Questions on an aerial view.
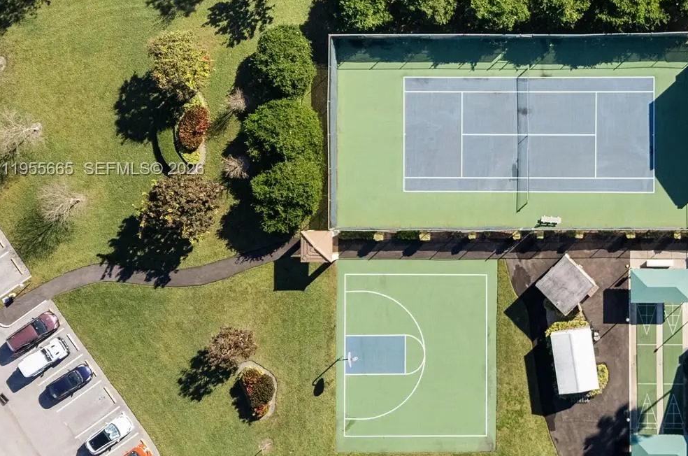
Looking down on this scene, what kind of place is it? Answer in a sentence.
The picture captures a sports ground.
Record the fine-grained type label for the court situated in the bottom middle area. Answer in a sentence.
The court situated in the bottom middle area can be classified as a basketball court.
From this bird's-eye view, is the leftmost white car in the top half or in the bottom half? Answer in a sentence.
It is in the bottom half that the leftmost white car appears.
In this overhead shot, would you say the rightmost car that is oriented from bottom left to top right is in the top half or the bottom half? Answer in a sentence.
Seen from above, the rightmost car that is oriented from bottom left to top right lies in the bottom half of the view.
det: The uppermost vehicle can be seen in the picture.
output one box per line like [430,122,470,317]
[2,313,57,356]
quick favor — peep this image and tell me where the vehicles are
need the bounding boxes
[11,338,68,382]
[122,443,150,456]
[40,363,92,405]
[82,416,132,456]
[2,313,57,356]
